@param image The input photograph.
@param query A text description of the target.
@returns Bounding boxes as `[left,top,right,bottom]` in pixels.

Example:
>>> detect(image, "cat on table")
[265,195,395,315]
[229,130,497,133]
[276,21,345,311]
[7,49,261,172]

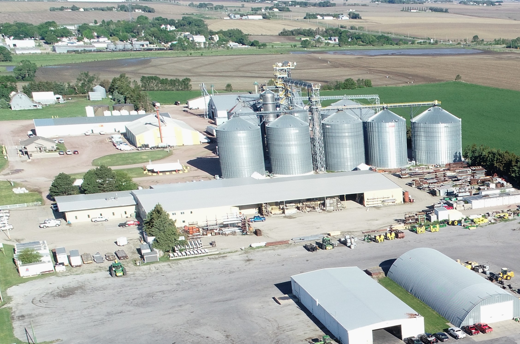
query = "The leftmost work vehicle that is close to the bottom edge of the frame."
[310,332,334,344]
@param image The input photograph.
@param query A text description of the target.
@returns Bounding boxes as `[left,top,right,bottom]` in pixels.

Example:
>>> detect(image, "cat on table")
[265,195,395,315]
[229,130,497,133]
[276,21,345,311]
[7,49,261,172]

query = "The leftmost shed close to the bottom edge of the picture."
[291,265,425,344]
